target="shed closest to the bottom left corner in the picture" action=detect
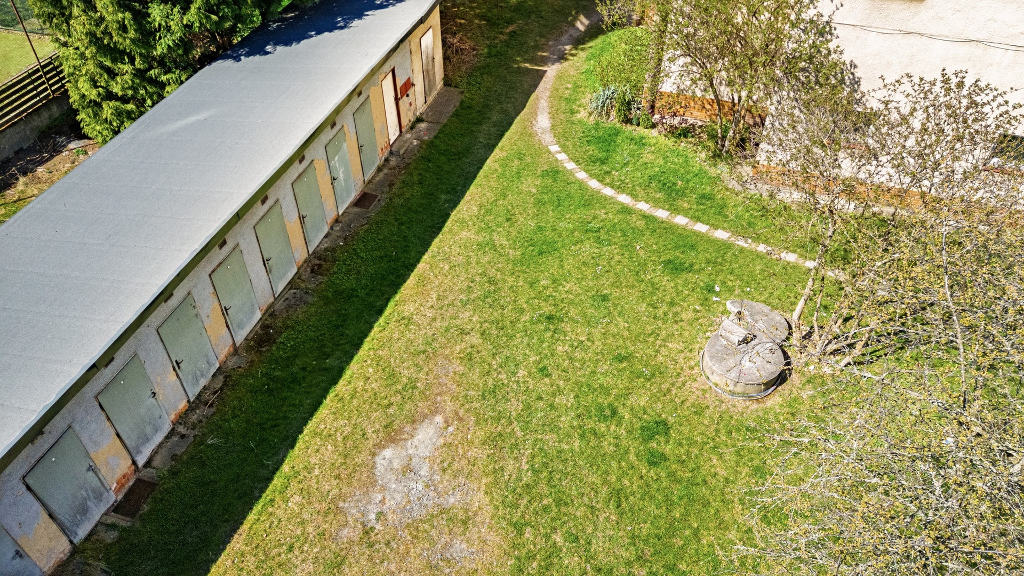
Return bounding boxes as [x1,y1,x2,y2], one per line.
[0,0,445,576]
